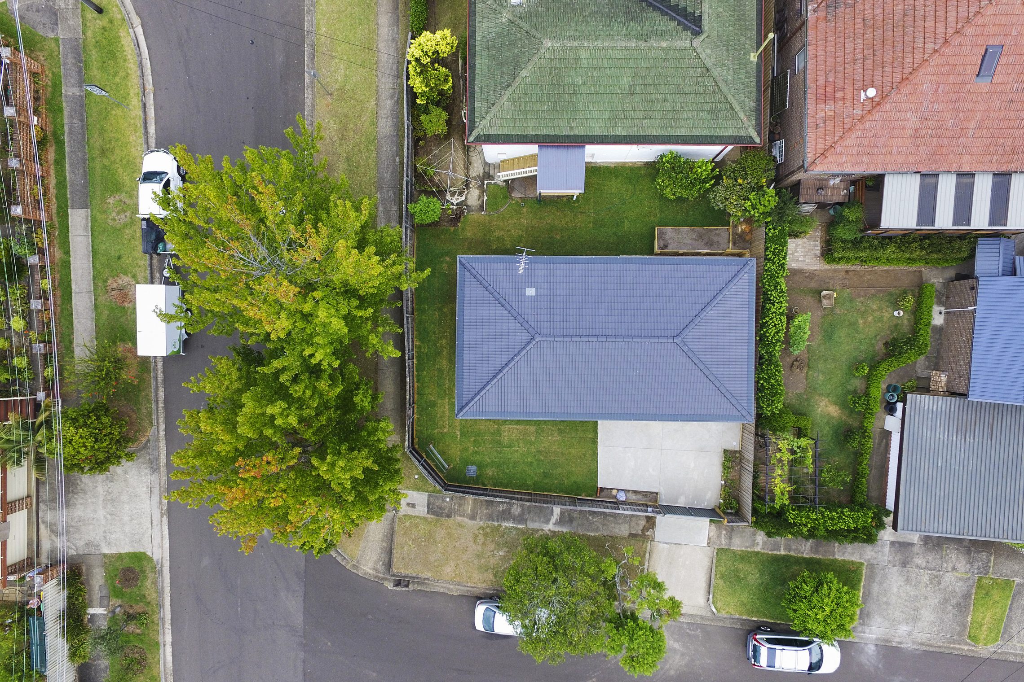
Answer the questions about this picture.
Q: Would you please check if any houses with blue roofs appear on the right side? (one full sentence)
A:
Yes, on the right side there is a house with a blue roof.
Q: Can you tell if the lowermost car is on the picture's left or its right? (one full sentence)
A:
The lowermost car appears in the right half of the scene.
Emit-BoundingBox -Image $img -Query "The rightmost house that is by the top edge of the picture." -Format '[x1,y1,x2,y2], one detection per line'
[776,0,1024,186]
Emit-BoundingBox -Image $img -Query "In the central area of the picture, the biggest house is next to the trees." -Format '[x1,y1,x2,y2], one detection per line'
[455,255,757,423]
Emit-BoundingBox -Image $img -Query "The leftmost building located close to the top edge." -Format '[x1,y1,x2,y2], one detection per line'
[467,0,776,162]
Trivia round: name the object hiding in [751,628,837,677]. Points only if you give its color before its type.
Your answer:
white car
